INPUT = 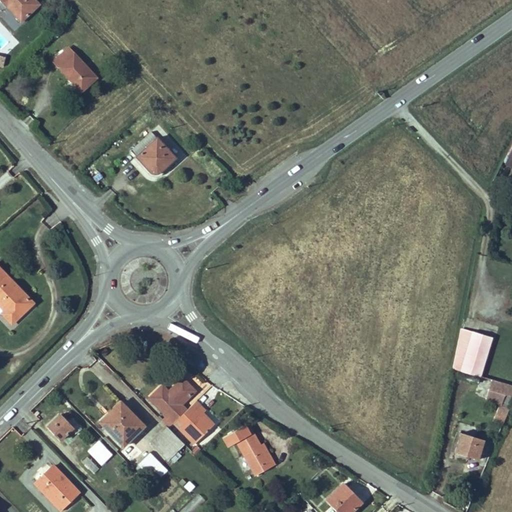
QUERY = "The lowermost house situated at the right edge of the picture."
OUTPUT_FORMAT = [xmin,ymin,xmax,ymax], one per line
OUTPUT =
[455,434,486,461]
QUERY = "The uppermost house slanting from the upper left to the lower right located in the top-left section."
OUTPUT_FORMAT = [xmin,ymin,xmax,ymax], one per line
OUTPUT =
[54,46,98,92]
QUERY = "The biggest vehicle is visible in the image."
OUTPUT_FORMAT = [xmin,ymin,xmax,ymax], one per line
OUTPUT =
[167,324,198,342]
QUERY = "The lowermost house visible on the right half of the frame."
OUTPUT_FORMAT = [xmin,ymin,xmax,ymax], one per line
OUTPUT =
[326,484,364,512]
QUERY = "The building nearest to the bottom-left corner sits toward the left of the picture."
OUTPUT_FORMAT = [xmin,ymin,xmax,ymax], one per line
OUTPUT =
[34,466,80,512]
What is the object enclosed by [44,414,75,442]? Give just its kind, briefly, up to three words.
house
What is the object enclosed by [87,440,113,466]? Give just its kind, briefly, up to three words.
shed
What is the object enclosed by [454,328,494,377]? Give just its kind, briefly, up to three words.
barn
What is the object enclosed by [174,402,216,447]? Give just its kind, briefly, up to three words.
house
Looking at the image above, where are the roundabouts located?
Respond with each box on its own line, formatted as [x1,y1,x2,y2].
[92,224,204,328]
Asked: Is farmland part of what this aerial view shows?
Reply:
Yes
